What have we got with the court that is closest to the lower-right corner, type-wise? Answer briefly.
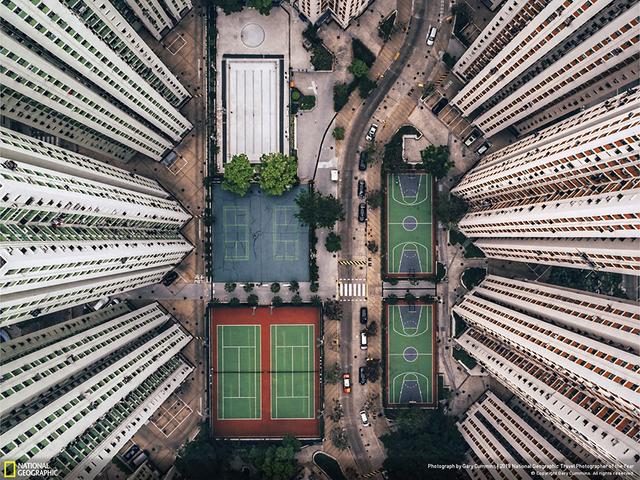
basketball court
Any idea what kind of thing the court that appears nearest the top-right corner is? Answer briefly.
basketball court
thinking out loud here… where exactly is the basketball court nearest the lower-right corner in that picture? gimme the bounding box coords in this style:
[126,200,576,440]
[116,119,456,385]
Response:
[386,302,436,409]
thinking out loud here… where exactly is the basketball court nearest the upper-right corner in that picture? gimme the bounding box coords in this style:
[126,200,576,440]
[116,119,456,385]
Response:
[386,170,436,278]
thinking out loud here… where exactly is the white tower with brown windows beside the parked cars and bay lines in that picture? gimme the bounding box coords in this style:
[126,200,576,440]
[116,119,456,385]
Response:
[449,0,640,141]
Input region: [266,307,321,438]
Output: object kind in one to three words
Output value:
tennis court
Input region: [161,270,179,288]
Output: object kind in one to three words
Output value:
vehicle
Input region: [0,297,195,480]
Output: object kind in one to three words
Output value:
building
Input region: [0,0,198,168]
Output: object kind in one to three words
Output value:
building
